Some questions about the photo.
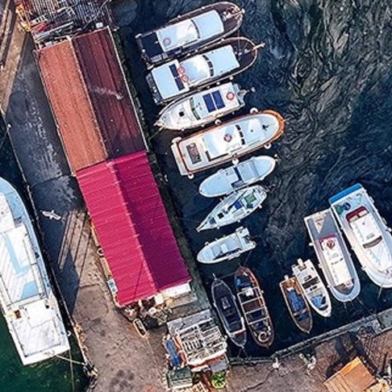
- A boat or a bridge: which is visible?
boat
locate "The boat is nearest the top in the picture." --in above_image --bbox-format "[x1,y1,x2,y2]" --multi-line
[136,5,245,70]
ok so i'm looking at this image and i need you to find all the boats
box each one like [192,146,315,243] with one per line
[236,267,272,346]
[0,175,71,364]
[214,274,246,346]
[304,208,357,301]
[136,5,245,70]
[155,83,255,128]
[200,155,279,197]
[198,228,256,261]
[198,182,268,230]
[280,277,310,333]
[147,35,265,106]
[171,112,286,177]
[293,260,332,316]
[329,182,392,289]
